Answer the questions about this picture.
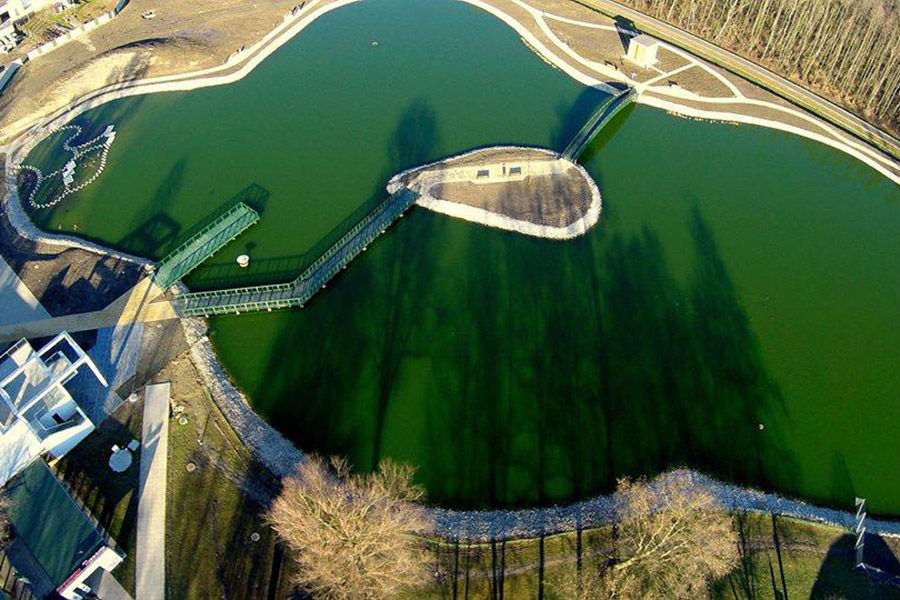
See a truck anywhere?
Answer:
No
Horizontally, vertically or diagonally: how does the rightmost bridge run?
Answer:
diagonally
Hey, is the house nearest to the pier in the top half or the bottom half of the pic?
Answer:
bottom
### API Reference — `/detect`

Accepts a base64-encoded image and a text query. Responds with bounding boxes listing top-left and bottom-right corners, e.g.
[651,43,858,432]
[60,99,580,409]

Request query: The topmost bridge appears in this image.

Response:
[560,85,643,170]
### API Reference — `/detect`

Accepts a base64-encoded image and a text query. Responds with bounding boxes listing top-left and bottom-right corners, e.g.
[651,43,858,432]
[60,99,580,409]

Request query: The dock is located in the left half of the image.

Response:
[152,202,258,295]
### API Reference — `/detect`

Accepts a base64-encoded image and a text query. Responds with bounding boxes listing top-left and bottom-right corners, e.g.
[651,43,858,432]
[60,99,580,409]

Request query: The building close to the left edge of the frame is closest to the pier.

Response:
[0,333,109,526]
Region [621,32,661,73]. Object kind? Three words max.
shed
